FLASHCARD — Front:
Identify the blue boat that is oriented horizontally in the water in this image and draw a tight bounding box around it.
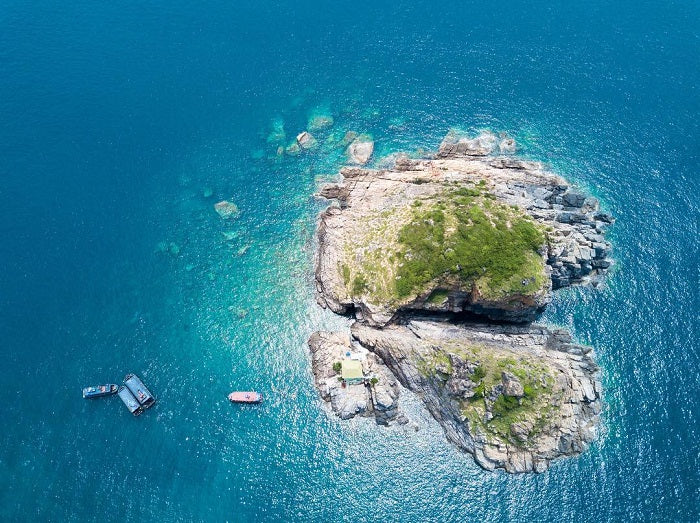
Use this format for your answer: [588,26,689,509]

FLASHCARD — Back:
[82,385,118,399]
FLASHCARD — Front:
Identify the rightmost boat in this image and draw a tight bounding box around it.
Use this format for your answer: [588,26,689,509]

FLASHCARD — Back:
[228,390,264,404]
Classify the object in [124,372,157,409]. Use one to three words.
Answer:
boat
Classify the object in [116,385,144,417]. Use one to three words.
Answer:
boat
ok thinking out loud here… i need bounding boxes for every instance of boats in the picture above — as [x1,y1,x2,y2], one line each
[124,372,157,409]
[228,390,264,404]
[82,385,118,399]
[116,385,144,417]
